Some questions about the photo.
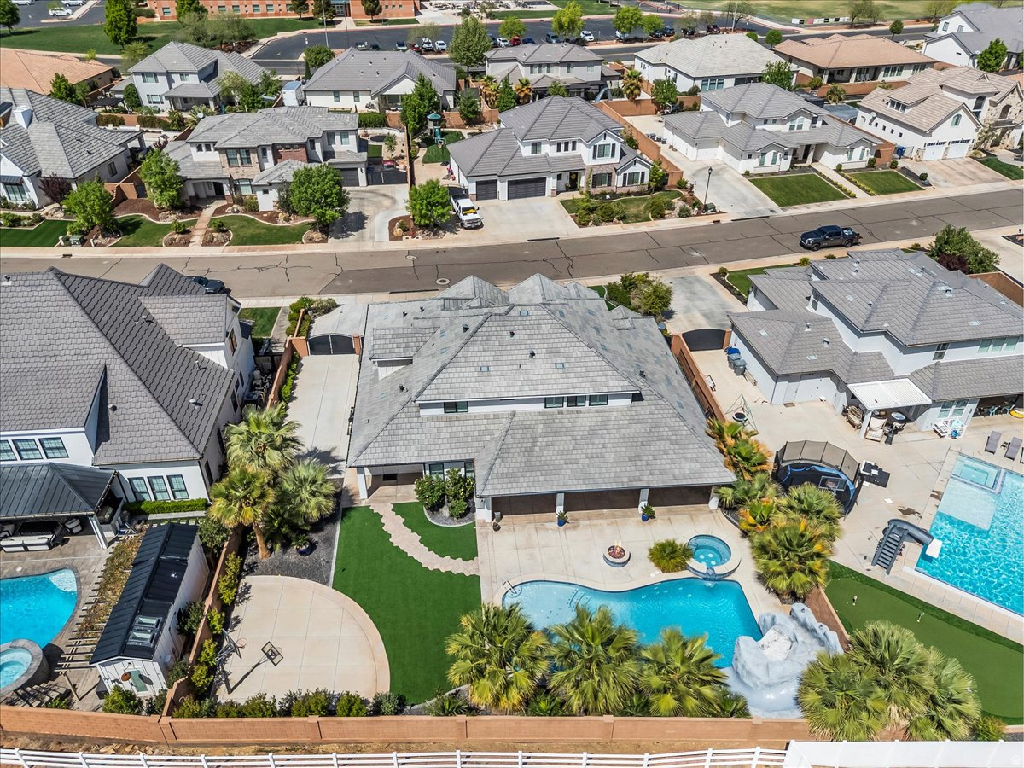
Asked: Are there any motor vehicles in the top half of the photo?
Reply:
Yes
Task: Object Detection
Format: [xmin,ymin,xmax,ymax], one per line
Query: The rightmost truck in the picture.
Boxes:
[797,221,863,250]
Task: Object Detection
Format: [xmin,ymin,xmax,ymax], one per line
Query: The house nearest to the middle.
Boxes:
[344,270,740,526]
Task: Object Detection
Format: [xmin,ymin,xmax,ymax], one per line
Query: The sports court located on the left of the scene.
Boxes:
[204,580,376,702]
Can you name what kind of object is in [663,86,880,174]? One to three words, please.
house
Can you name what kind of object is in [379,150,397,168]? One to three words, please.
car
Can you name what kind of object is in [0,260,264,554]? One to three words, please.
house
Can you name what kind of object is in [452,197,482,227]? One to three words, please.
truck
